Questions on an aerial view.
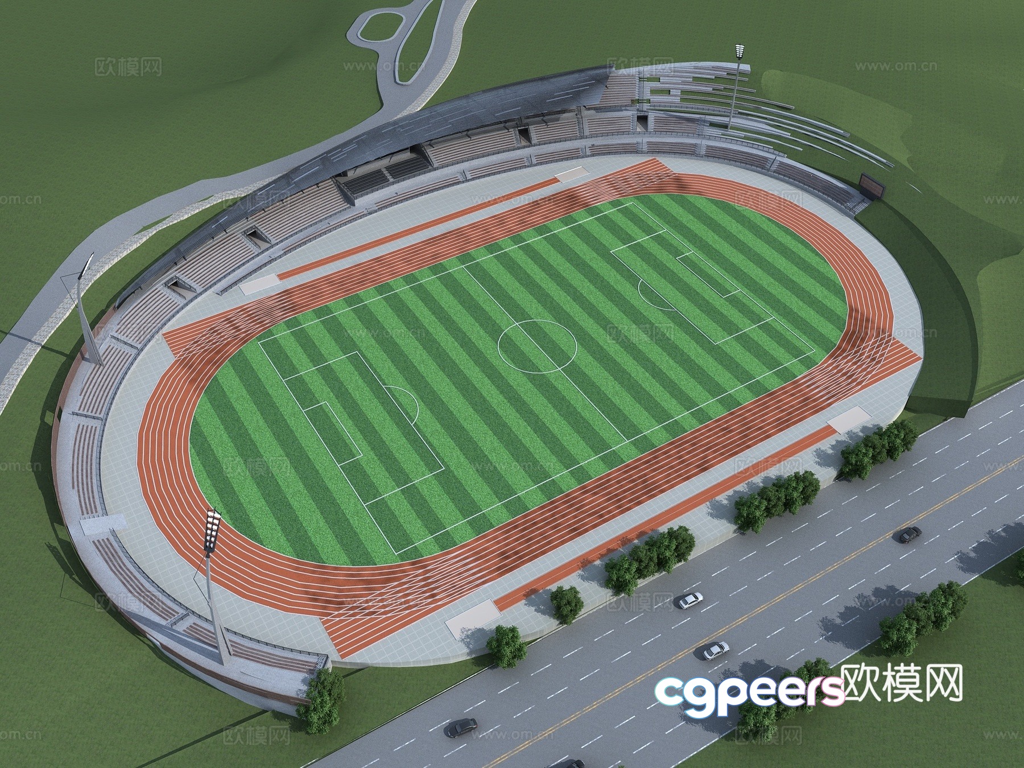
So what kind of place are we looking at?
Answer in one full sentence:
The picture captures a sports ground.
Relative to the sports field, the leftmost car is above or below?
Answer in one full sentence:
Looking at the scene, the leftmost car is located below the sports field.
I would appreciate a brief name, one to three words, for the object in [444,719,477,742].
car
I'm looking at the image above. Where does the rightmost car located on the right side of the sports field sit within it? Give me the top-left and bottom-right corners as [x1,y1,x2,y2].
[900,527,926,545]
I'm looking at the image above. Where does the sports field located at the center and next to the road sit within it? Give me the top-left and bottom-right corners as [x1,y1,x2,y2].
[190,195,847,566]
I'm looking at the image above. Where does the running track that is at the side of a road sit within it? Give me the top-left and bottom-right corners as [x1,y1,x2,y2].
[137,173,893,614]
